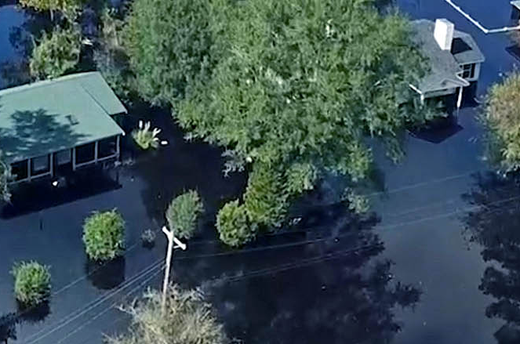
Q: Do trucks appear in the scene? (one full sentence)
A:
No, the frame has no truck in it.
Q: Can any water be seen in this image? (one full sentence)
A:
Yes, water can be seen from above here.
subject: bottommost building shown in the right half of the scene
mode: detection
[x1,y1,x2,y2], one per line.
[361,19,489,112]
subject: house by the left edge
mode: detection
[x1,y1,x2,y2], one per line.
[0,61,129,183]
